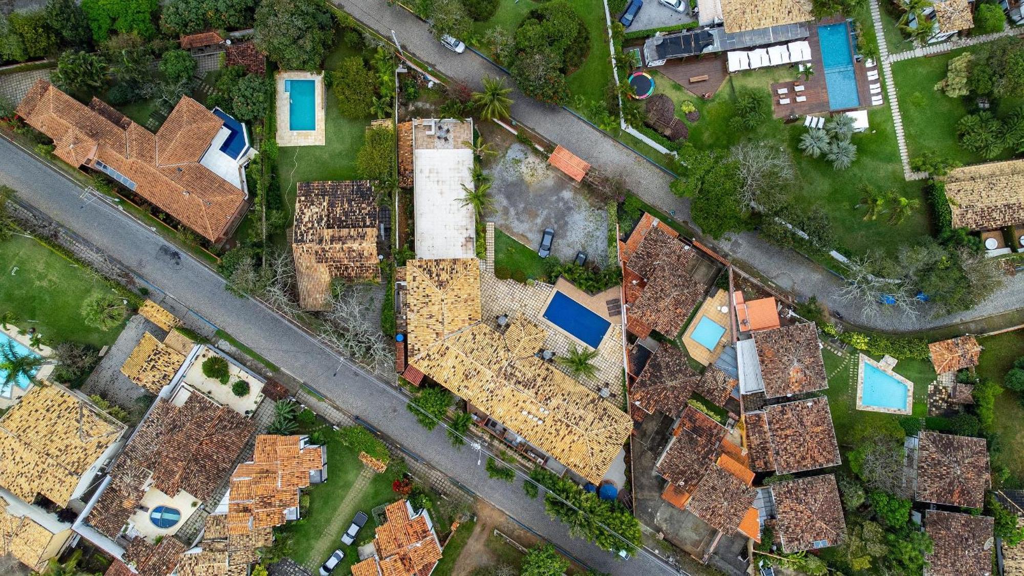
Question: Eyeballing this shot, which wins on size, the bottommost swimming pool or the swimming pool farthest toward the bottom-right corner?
the swimming pool farthest toward the bottom-right corner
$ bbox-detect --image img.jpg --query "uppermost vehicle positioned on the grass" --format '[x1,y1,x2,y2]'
[342,510,368,544]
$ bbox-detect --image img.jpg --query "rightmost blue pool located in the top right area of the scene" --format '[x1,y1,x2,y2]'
[818,22,861,111]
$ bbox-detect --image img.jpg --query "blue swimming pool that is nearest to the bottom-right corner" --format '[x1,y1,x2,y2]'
[862,361,908,411]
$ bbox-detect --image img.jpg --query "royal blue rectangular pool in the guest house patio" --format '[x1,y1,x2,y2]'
[541,288,613,350]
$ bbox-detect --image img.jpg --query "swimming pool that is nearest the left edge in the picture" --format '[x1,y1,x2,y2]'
[0,328,42,401]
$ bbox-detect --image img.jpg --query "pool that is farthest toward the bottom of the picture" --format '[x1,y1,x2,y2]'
[150,505,183,530]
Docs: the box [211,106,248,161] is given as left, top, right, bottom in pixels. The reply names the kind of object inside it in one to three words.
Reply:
swimming pool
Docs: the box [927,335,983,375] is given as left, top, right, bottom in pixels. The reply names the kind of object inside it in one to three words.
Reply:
shed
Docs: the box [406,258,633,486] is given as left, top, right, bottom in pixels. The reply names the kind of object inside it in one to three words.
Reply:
house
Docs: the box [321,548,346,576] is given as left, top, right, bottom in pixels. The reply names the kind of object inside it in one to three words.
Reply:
car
